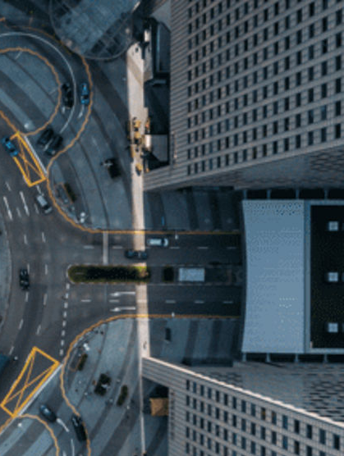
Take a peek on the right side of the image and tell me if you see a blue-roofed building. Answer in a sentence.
Yes, a blue-roofed building appears on the right side of the image.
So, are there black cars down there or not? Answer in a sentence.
Yes, there's a black car down there.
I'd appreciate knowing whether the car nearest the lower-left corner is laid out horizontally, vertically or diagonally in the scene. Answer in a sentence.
From this overhead view, the car nearest the lower-left corner appears to run diagonally.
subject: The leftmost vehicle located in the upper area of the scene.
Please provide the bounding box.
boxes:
[2,134,20,157]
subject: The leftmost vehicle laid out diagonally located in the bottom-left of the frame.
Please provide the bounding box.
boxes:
[38,403,59,424]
